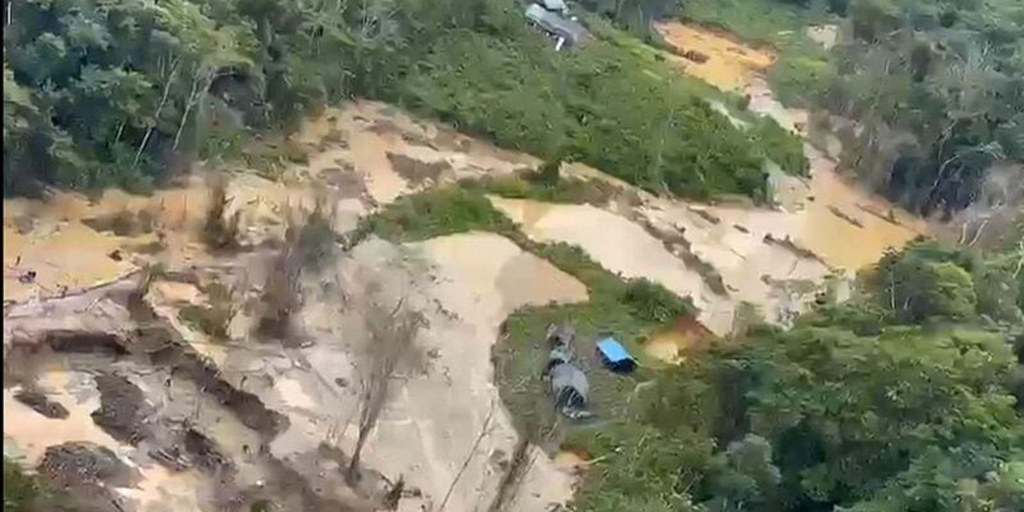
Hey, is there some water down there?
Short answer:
Yes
